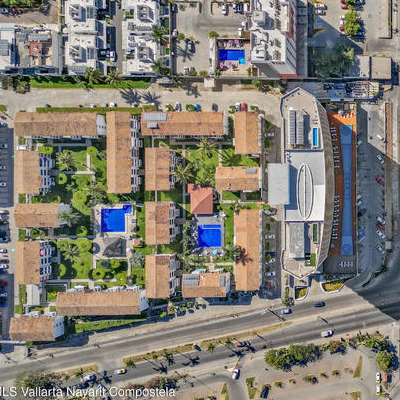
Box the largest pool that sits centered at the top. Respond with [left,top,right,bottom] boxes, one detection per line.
[217,49,245,62]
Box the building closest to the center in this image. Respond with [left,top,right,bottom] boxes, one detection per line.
[188,184,214,215]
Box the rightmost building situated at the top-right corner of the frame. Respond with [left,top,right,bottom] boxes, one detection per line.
[371,58,391,82]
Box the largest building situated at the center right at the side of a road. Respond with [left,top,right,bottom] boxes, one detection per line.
[268,87,335,281]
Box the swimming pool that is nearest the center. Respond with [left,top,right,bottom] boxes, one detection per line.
[197,225,222,248]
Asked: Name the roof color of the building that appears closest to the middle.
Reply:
red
